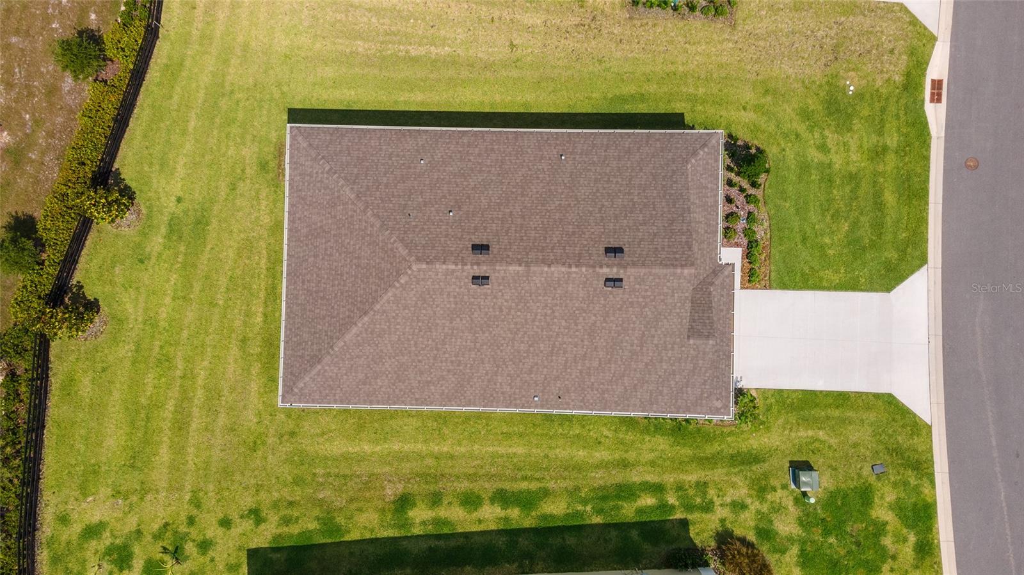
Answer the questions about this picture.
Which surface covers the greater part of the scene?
grass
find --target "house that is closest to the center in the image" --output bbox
[279,126,735,418]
